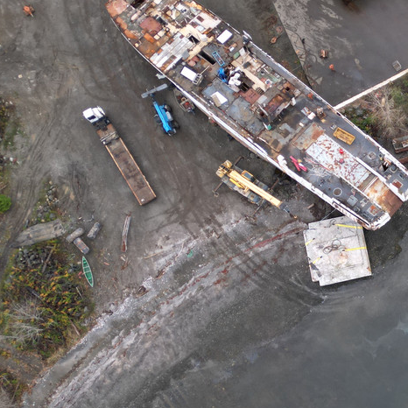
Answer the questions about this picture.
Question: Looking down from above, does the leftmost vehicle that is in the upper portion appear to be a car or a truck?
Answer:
truck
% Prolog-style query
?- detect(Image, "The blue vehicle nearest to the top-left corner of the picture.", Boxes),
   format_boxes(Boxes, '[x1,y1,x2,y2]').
[141,88,176,135]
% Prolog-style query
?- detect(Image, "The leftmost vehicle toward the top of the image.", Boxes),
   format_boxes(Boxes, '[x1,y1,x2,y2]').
[82,106,155,205]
